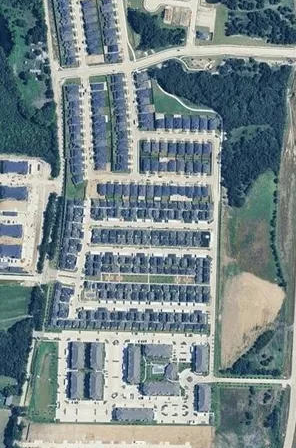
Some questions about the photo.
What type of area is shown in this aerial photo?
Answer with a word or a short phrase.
residential area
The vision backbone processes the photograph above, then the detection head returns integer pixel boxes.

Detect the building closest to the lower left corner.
[70,373,84,399]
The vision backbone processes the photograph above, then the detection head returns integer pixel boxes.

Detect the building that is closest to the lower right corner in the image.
[195,385,212,412]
